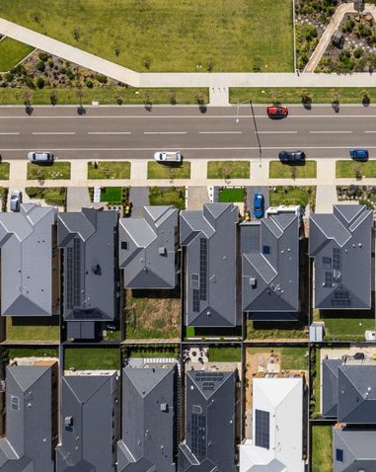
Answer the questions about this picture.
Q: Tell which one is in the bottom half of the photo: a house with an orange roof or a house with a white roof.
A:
house with a white roof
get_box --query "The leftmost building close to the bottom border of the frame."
[0,363,57,472]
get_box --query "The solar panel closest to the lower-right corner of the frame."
[256,410,269,448]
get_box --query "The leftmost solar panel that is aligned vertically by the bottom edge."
[191,414,206,460]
